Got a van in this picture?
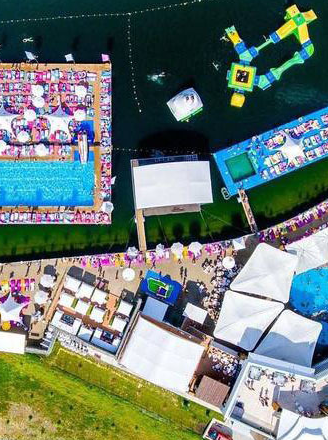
No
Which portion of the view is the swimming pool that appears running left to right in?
left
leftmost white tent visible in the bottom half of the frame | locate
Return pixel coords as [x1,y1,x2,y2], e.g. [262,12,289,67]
[0,291,30,326]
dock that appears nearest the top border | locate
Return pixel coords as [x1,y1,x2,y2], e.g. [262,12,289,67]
[212,107,328,198]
